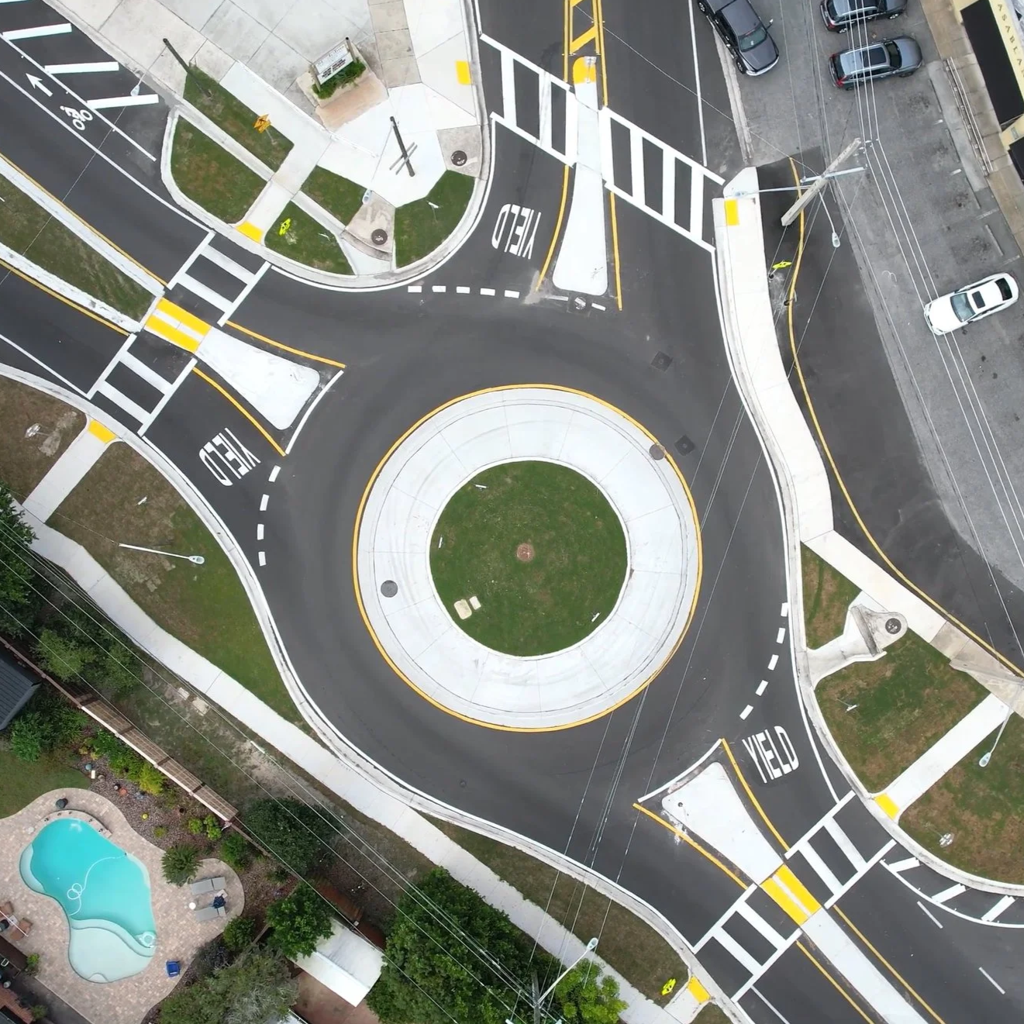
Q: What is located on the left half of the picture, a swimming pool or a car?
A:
swimming pool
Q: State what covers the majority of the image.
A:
paved ground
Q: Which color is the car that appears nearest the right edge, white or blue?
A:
white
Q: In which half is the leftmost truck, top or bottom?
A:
top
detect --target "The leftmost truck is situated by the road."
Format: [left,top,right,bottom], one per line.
[690,0,779,75]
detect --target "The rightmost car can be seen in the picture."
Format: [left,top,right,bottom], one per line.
[920,270,1022,337]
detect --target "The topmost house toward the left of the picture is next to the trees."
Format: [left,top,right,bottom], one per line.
[0,643,45,732]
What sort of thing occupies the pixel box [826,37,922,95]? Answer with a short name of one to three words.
car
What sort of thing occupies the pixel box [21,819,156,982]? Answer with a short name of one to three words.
swimming pool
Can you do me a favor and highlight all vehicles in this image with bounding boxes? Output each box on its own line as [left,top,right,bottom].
[813,0,909,40]
[690,0,779,75]
[920,270,1022,337]
[826,37,922,95]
